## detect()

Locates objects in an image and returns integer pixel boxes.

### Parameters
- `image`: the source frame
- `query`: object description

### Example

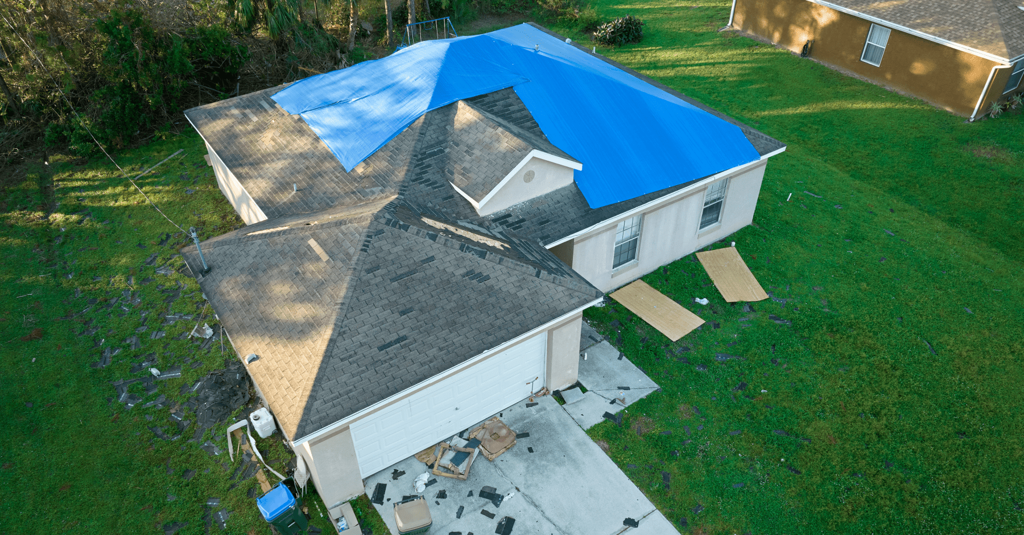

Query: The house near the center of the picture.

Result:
[178,21,787,511]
